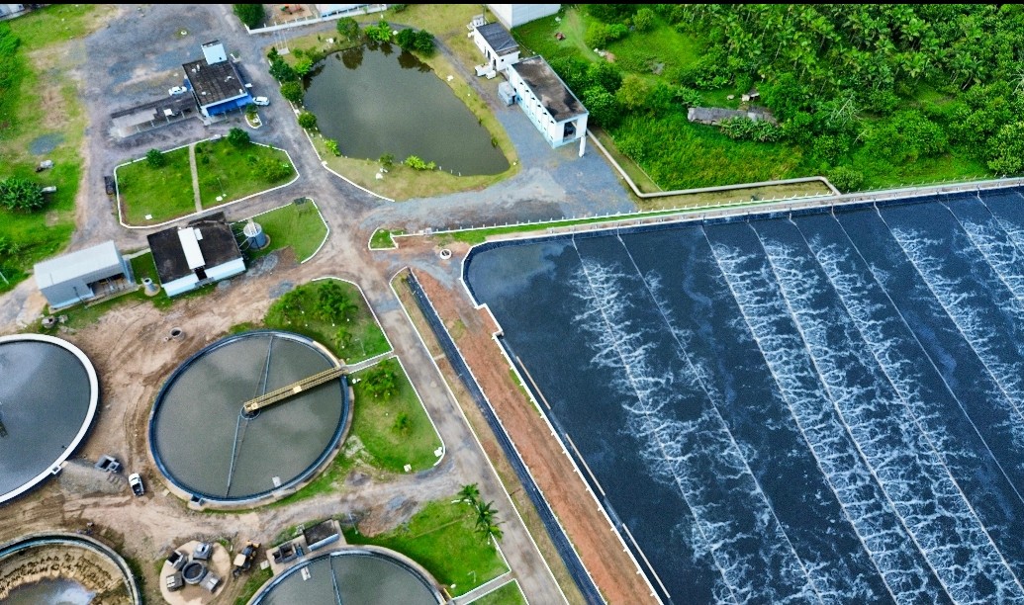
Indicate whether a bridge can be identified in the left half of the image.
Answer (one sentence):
Yes, a bridge shows up in the left half of the image.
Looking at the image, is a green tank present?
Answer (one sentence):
No, there's no green tank here.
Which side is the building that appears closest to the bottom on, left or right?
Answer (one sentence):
The building that appears closest to the bottom is on the left side of the image.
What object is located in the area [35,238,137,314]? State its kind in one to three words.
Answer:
shed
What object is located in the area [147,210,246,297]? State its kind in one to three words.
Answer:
building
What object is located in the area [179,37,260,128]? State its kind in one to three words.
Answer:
building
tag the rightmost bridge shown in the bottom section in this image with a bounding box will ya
[239,362,350,416]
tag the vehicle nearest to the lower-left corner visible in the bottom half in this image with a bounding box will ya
[127,473,146,500]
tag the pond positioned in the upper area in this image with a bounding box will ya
[305,46,507,177]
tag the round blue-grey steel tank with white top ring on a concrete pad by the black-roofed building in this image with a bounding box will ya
[233,221,272,254]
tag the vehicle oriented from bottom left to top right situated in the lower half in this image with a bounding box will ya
[230,540,264,578]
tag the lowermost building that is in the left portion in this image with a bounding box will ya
[266,517,344,569]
